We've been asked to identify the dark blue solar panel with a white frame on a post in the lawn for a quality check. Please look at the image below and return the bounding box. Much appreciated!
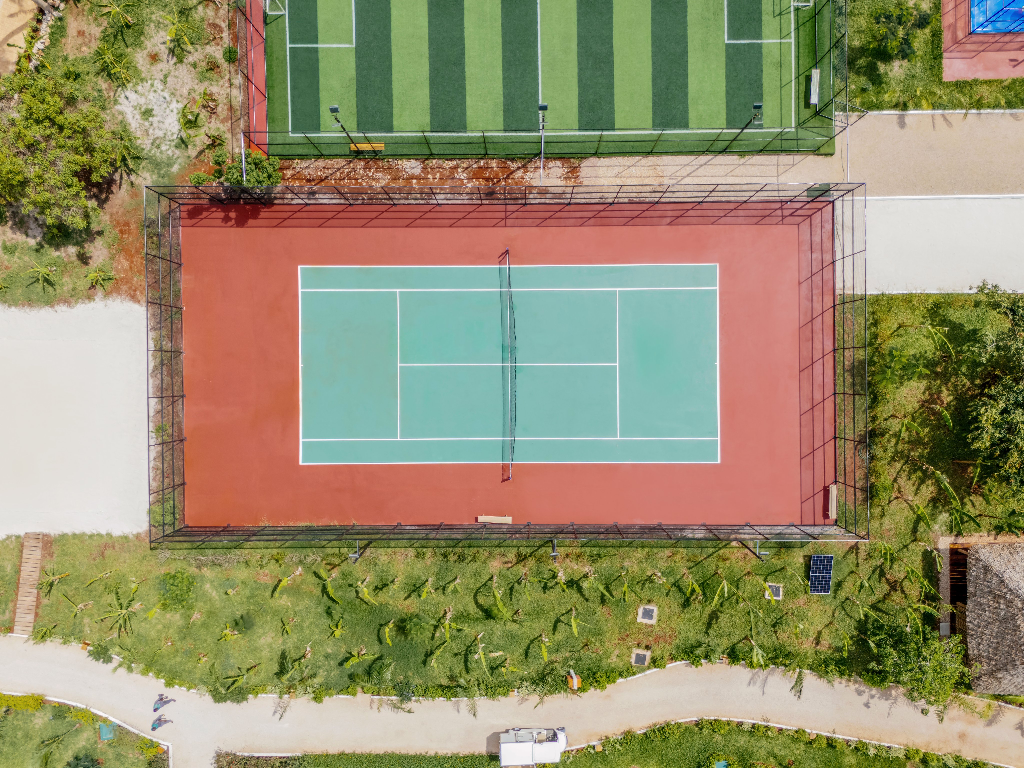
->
[810,555,834,595]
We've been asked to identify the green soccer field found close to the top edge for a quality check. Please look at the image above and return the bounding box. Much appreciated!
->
[266,0,835,159]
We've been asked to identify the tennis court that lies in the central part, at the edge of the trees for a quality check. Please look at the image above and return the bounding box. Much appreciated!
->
[180,199,839,528]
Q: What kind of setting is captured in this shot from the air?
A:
sports ground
